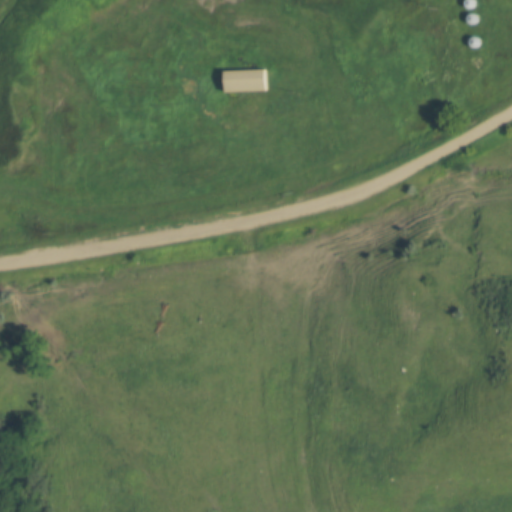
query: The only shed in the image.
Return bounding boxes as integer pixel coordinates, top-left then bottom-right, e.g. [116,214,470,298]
[224,68,268,93]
